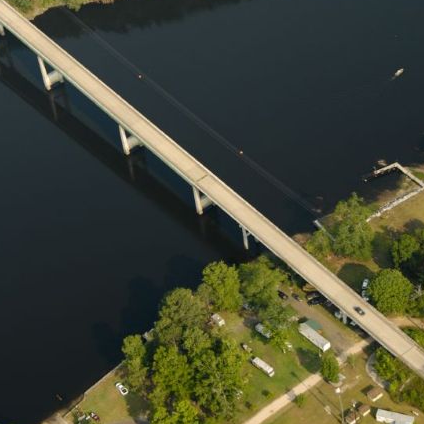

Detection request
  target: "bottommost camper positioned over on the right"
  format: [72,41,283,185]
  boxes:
[251,357,274,380]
